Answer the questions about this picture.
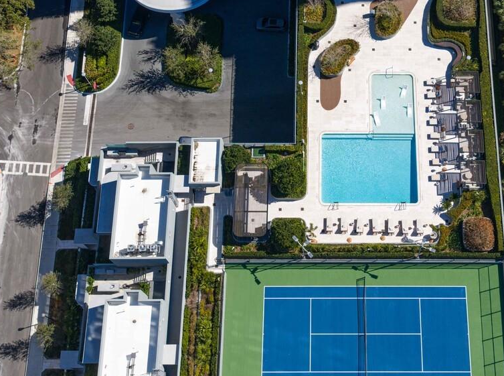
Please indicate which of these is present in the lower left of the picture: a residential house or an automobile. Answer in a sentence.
You can see a residential house in the lower left of the picture.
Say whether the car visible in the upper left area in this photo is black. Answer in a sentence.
Yes, the car visible in the upper left area appears black.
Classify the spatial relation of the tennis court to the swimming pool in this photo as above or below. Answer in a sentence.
Relative to the swimming pool, the tennis court lies below it.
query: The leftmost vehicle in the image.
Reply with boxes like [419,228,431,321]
[124,8,148,42]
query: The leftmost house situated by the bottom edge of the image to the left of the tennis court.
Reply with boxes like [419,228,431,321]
[60,263,173,376]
